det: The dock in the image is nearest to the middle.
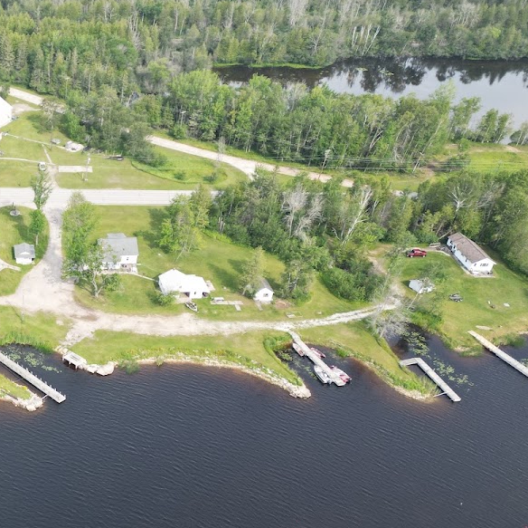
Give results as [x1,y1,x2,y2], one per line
[292,337,347,387]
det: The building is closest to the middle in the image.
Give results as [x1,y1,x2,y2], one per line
[245,272,277,303]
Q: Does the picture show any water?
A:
Yes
